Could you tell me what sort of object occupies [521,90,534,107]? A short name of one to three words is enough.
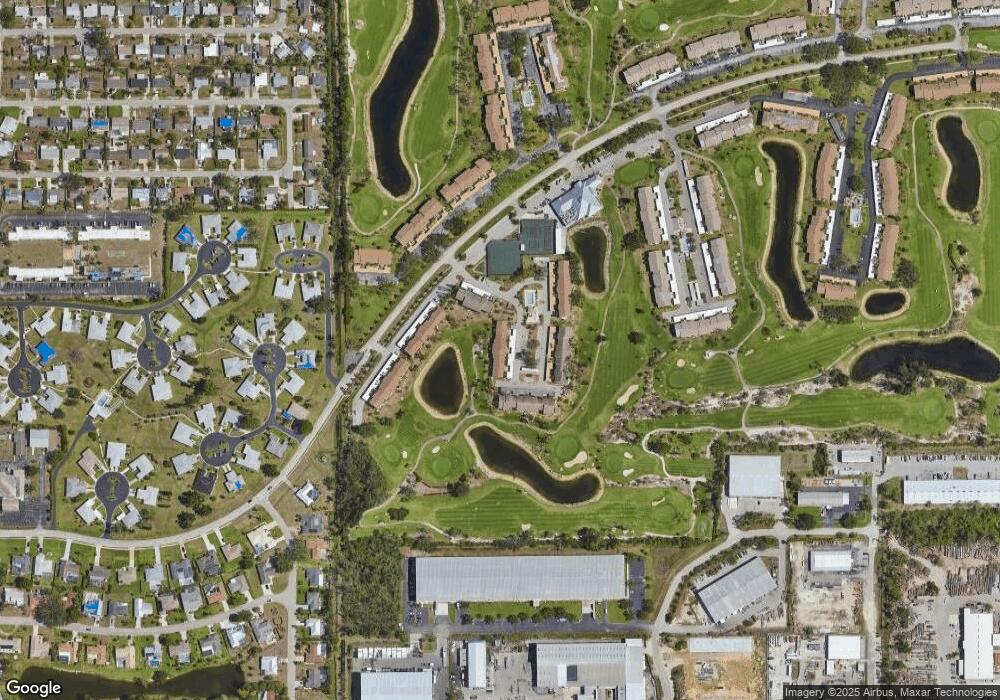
swimming pool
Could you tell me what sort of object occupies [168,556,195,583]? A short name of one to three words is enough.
house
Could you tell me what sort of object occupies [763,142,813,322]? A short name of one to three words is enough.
pond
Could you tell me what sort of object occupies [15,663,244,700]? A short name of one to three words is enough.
pond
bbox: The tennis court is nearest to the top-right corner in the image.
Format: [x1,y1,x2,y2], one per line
[520,219,556,255]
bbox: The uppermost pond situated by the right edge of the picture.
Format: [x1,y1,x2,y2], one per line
[938,115,981,212]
